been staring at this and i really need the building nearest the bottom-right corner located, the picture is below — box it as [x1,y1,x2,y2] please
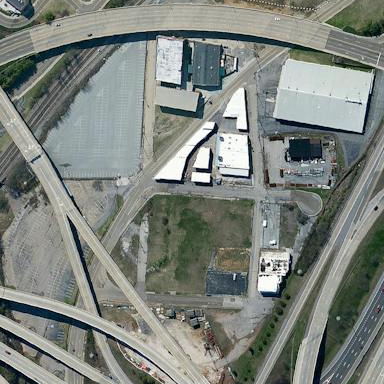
[258,250,290,293]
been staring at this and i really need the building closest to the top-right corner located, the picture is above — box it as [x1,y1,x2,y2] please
[274,56,374,135]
